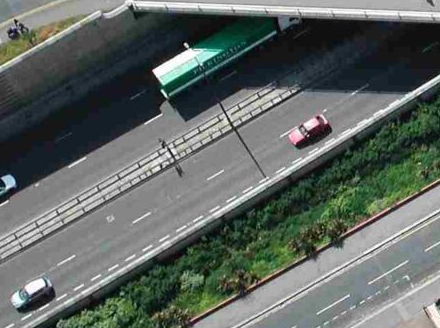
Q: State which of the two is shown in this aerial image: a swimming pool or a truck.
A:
truck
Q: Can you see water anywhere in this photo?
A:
No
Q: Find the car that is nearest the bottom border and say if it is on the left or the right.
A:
left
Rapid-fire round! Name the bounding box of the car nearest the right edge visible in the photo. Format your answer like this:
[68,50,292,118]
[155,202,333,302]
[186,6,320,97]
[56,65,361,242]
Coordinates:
[290,115,329,147]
